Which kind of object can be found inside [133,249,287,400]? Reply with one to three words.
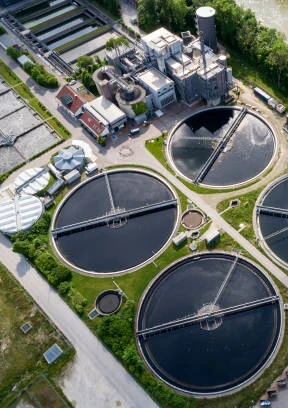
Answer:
storage tank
